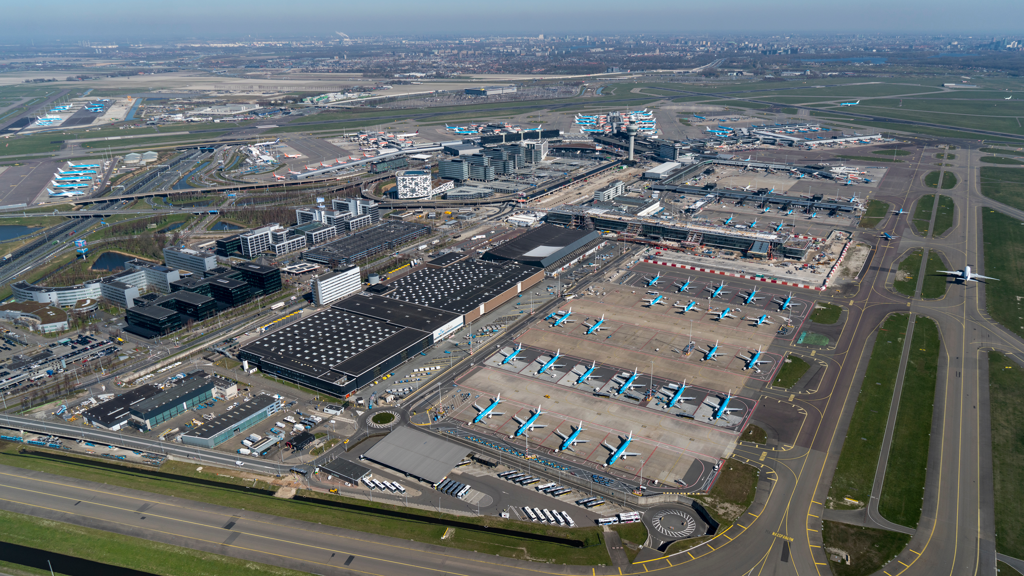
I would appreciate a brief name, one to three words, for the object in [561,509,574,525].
vehicle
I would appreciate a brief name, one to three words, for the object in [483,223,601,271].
hangar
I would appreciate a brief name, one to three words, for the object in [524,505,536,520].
vehicle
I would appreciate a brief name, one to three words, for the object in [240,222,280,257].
building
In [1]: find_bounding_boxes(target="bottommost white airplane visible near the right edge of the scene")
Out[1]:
[937,265,998,283]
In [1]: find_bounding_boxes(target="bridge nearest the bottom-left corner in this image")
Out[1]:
[0,419,297,479]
